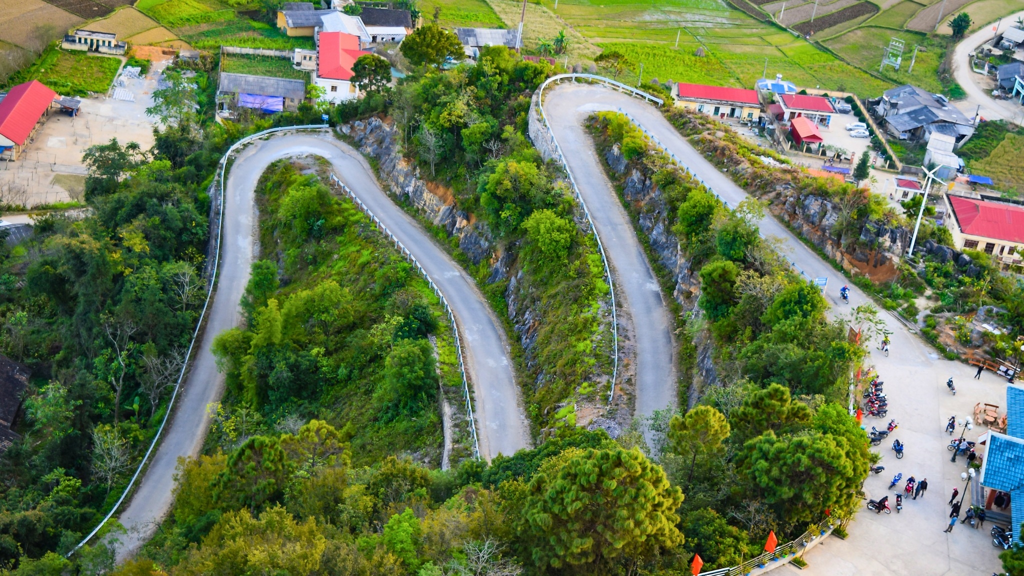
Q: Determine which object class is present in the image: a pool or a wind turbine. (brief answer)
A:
wind turbine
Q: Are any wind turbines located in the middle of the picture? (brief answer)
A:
No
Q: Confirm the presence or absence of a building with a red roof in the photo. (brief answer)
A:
Yes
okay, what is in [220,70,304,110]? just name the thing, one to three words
building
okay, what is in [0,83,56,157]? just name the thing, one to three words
building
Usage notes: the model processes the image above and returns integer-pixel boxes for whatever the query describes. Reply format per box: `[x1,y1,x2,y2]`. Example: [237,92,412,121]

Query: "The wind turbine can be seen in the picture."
[904,160,954,259]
